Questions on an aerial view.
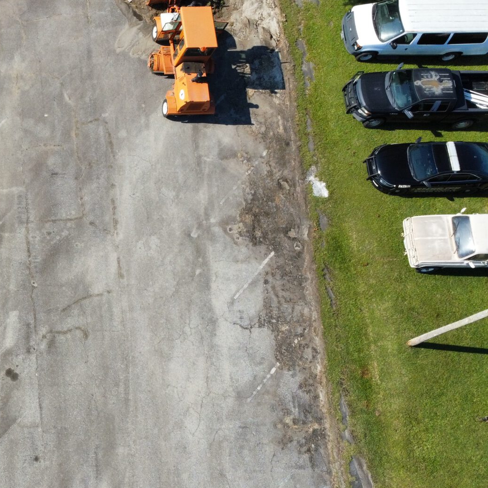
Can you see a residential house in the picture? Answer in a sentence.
No, there's no residential house here.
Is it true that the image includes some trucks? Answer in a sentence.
Yes, looking at the shot, I can spot a truck.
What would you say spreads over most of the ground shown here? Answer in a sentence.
What you mostly see from above here is paved ground.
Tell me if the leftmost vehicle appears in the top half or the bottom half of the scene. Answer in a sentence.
It is in the top half that the leftmost vehicle appears.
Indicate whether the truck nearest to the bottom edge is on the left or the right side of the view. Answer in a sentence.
The truck nearest to the bottom edge appears in the right half of the scene.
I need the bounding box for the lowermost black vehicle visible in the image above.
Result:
[360,137,488,197]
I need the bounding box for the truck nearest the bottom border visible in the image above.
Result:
[396,207,488,272]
